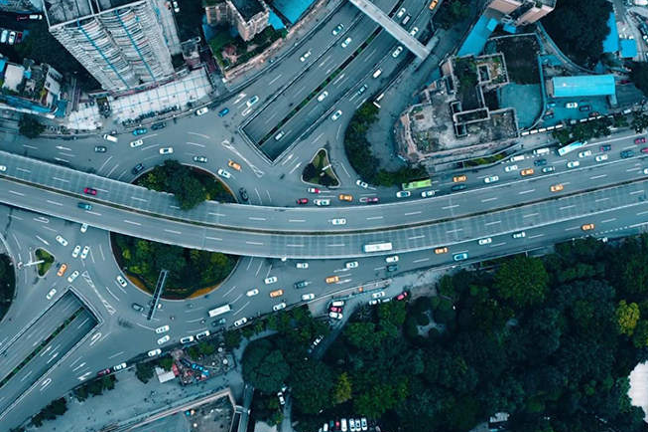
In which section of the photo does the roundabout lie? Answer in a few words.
left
